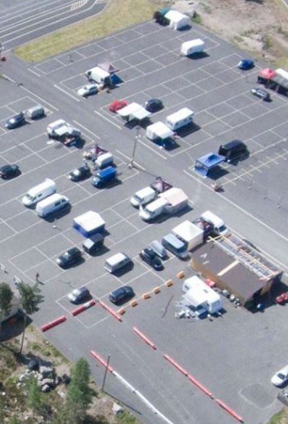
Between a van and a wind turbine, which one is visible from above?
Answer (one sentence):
The image shows a van.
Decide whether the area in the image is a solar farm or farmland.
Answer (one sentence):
What you see here is farmland.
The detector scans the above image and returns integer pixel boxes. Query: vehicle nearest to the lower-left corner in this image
[64,285,96,304]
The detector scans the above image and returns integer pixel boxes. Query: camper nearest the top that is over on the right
[181,35,207,55]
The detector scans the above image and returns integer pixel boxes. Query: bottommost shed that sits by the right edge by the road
[185,228,288,311]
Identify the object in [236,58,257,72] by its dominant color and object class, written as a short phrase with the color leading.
blue vehicle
